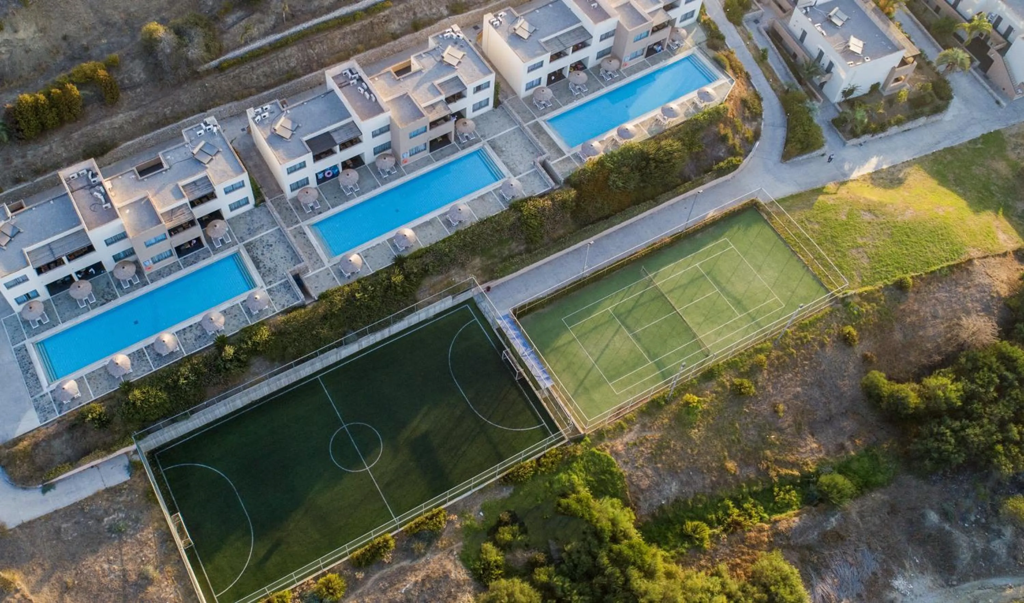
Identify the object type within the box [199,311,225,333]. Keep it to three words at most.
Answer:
umbrella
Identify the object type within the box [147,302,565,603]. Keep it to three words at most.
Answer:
soccer field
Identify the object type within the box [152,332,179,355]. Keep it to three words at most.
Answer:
umbrella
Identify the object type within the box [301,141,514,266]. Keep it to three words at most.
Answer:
swimming pool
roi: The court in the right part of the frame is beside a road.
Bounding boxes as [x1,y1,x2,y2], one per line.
[520,208,828,420]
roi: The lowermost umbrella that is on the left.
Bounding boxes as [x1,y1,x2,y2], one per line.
[53,379,82,403]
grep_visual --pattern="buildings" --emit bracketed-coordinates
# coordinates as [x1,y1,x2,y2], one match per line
[243,23,494,199]
[942,0,1024,100]
[766,0,924,98]
[480,0,701,97]
[0,116,255,311]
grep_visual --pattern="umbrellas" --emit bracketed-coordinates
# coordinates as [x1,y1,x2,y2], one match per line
[53,379,82,403]
[338,170,361,191]
[338,254,363,276]
[297,188,321,209]
[68,280,94,302]
[579,141,601,162]
[455,119,476,139]
[668,27,687,47]
[659,103,681,124]
[615,124,637,144]
[20,301,46,323]
[112,261,137,283]
[567,71,588,92]
[152,332,179,355]
[374,154,397,175]
[199,311,225,333]
[244,290,269,312]
[106,354,133,377]
[206,221,230,242]
[599,57,620,77]
[392,229,416,251]
[694,87,716,107]
[532,87,553,108]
